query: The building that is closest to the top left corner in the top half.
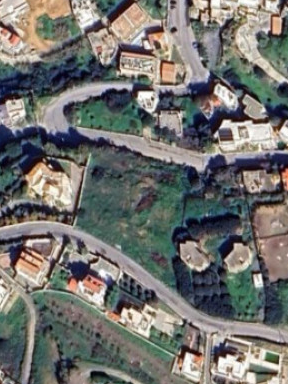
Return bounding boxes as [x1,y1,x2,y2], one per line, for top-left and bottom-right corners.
[0,0,32,25]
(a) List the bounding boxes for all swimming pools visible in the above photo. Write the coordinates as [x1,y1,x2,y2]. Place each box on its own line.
[262,349,281,366]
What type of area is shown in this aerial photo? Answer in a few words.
residential area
